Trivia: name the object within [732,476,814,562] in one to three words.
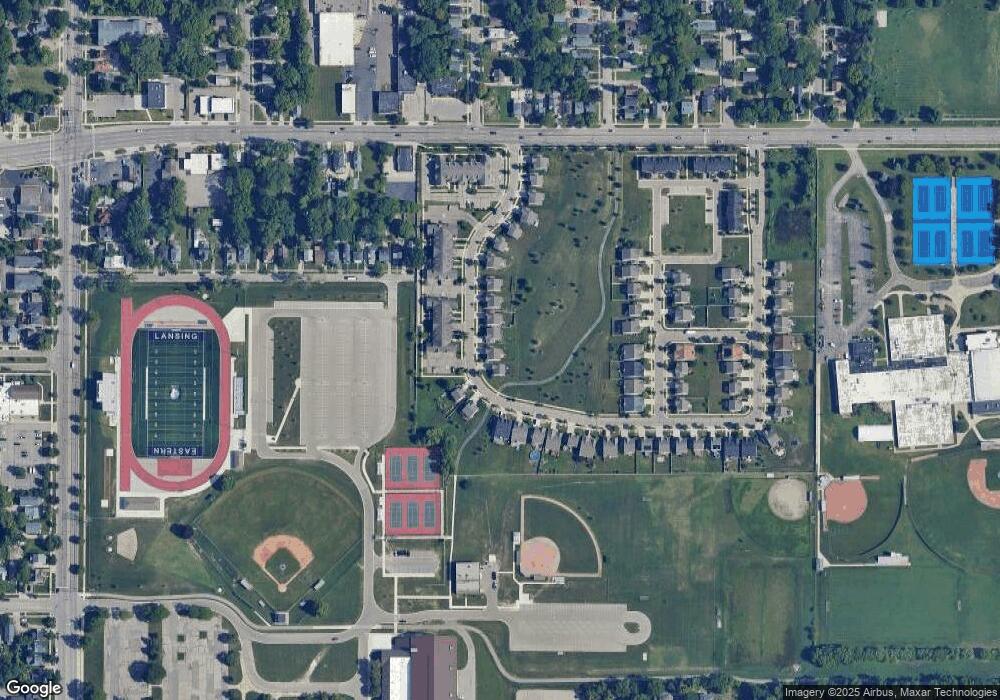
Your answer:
baseball field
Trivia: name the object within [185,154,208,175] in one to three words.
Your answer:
building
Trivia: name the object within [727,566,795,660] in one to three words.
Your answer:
soccer field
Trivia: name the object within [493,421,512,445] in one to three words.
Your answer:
house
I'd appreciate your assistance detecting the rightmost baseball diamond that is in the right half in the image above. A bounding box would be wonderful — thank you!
[968,459,1000,509]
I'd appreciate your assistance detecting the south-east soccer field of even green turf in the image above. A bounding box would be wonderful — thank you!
[826,568,960,644]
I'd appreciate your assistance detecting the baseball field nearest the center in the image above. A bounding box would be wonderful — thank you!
[521,495,602,578]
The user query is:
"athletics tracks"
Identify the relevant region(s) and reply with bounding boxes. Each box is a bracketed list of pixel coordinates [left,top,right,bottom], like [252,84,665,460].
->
[121,295,231,491]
